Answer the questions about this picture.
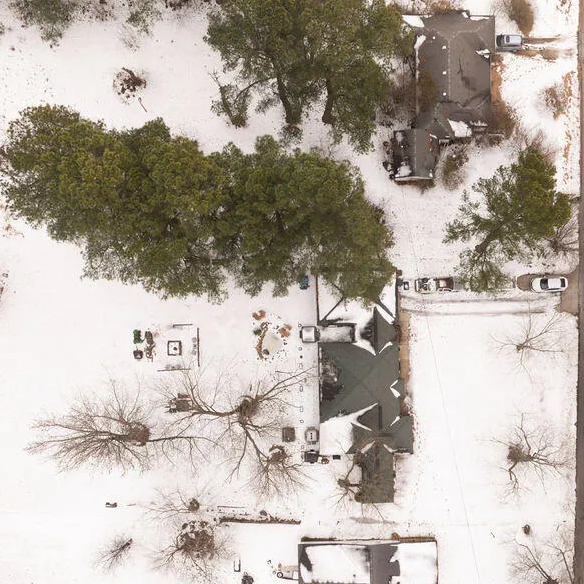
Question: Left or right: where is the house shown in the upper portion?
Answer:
right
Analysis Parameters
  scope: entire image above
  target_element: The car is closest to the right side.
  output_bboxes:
[532,276,569,292]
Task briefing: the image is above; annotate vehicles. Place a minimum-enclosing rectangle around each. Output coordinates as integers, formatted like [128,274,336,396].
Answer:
[496,31,525,49]
[532,276,569,292]
[416,276,468,293]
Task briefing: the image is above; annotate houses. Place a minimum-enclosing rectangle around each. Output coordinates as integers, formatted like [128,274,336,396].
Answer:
[298,540,437,584]
[316,250,413,503]
[393,9,496,183]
